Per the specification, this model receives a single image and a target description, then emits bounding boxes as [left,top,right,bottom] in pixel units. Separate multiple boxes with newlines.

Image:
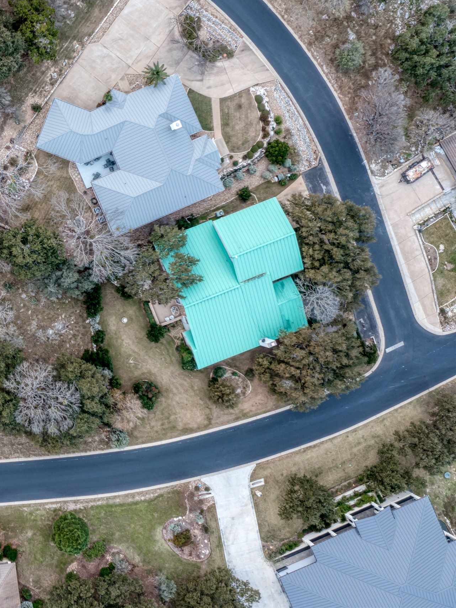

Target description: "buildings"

[35,73,225,236]
[153,198,307,370]
[0,551,21,608]
[271,495,456,608]
[430,131,456,192]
